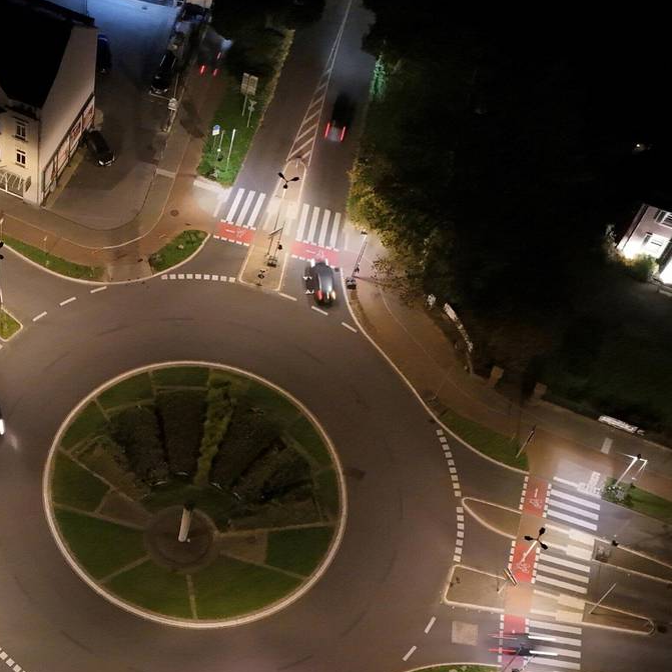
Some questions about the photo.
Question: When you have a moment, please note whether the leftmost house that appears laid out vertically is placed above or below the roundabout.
above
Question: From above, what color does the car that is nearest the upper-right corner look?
black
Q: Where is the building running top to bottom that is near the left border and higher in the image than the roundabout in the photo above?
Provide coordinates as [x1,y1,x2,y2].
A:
[0,0,95,206]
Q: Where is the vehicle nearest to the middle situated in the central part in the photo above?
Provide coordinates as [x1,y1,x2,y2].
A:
[307,261,335,304]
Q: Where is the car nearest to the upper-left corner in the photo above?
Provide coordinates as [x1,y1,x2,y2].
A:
[92,31,116,71]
